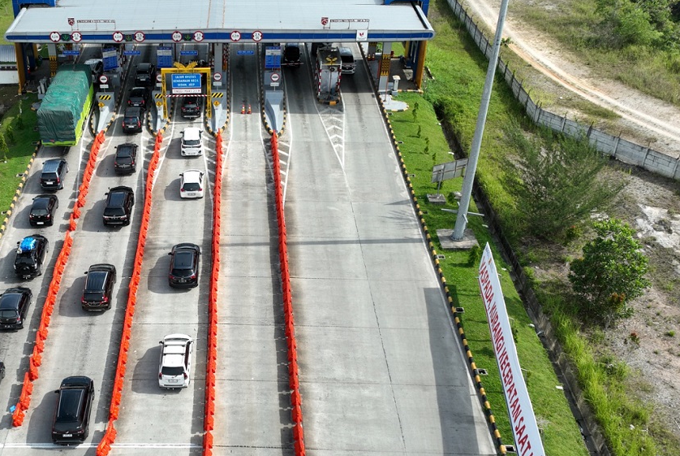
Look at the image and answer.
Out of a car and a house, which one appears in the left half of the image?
car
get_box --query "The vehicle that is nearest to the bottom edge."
[51,377,95,444]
